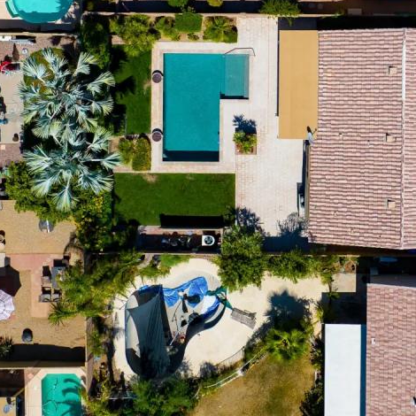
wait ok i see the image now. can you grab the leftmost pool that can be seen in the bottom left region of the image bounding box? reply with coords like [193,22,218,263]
[38,370,85,416]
